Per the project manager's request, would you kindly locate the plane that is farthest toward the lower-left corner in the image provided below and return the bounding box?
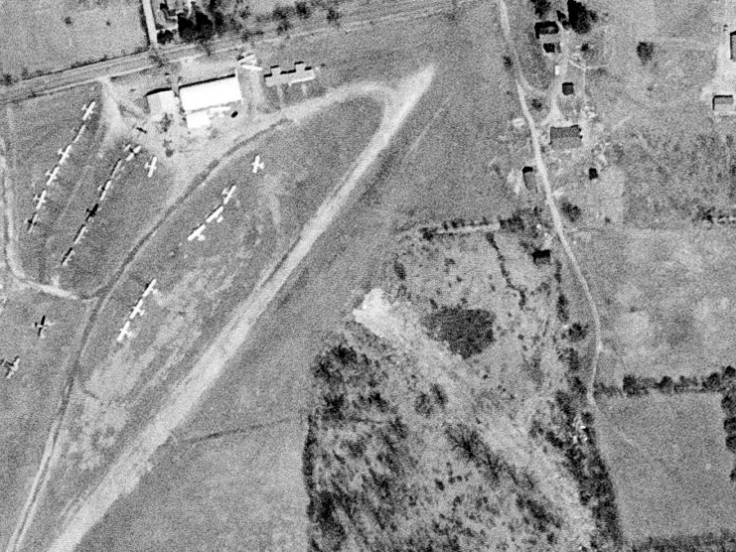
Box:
[0,357,19,378]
